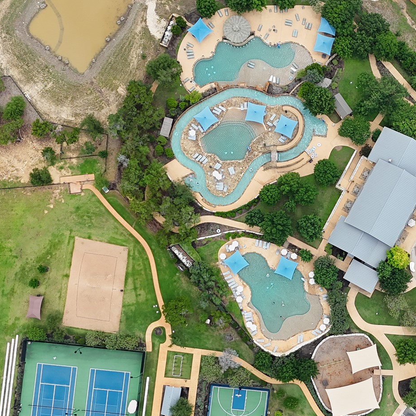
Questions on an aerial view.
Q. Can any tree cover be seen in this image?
Yes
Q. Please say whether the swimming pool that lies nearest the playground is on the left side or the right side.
right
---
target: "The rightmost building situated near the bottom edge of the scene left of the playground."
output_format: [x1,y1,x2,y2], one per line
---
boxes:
[161,385,183,416]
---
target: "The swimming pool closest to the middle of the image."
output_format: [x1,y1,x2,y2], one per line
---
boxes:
[199,106,268,162]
